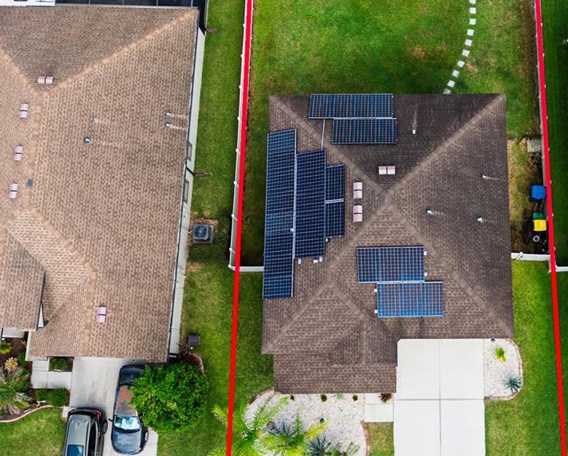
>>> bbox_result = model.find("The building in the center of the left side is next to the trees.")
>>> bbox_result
[0,6,219,361]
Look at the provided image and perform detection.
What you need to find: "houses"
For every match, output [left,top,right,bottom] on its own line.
[261,93,513,393]
[0,6,219,361]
